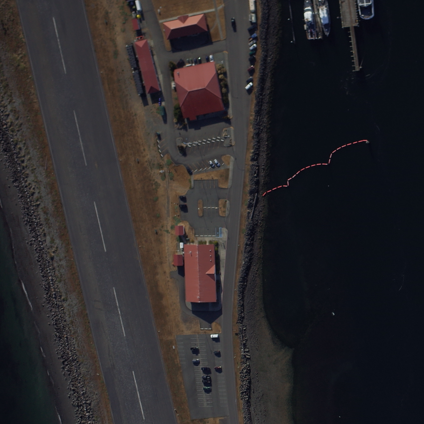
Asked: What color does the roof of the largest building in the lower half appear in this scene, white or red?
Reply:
red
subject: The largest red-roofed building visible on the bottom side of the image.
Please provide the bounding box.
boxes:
[184,244,218,302]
